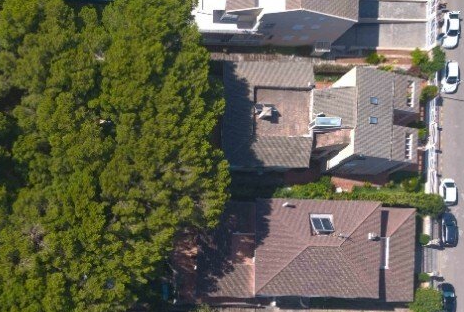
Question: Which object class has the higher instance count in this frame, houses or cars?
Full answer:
The larger group is the cars, while the houses are less common.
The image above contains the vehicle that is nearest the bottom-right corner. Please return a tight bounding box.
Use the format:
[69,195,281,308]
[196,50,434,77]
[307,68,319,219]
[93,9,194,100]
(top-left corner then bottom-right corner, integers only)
[438,283,459,312]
